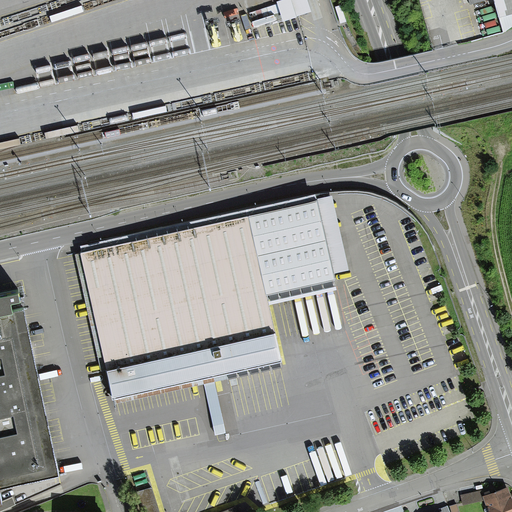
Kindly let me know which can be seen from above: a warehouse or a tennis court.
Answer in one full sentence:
Of the two, only a warehouse appears.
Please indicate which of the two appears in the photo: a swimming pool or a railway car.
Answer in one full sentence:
This aerial view contains a railway car.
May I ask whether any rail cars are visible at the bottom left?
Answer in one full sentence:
No, I can find no rail car at the bottom left.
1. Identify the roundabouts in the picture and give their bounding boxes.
[378,130,469,218]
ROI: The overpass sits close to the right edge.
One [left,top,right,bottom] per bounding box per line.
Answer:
[352,28,512,84]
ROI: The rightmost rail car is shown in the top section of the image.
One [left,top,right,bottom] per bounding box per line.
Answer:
[260,72,310,88]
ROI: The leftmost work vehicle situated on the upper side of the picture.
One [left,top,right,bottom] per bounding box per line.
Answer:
[205,19,222,46]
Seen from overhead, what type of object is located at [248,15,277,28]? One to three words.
vehicle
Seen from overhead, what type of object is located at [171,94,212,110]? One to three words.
rail car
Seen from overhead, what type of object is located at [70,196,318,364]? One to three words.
warehouse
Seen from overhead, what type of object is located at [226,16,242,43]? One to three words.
work vehicle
